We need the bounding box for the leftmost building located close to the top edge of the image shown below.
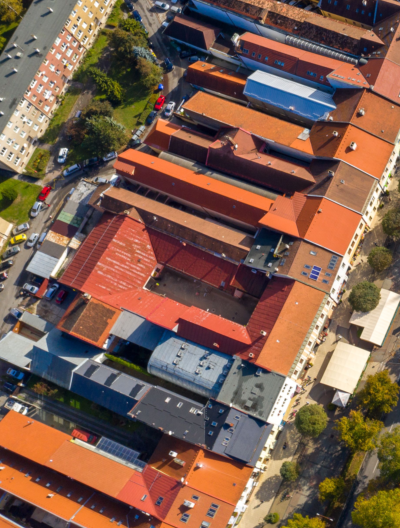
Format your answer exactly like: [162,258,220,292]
[0,0,118,174]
